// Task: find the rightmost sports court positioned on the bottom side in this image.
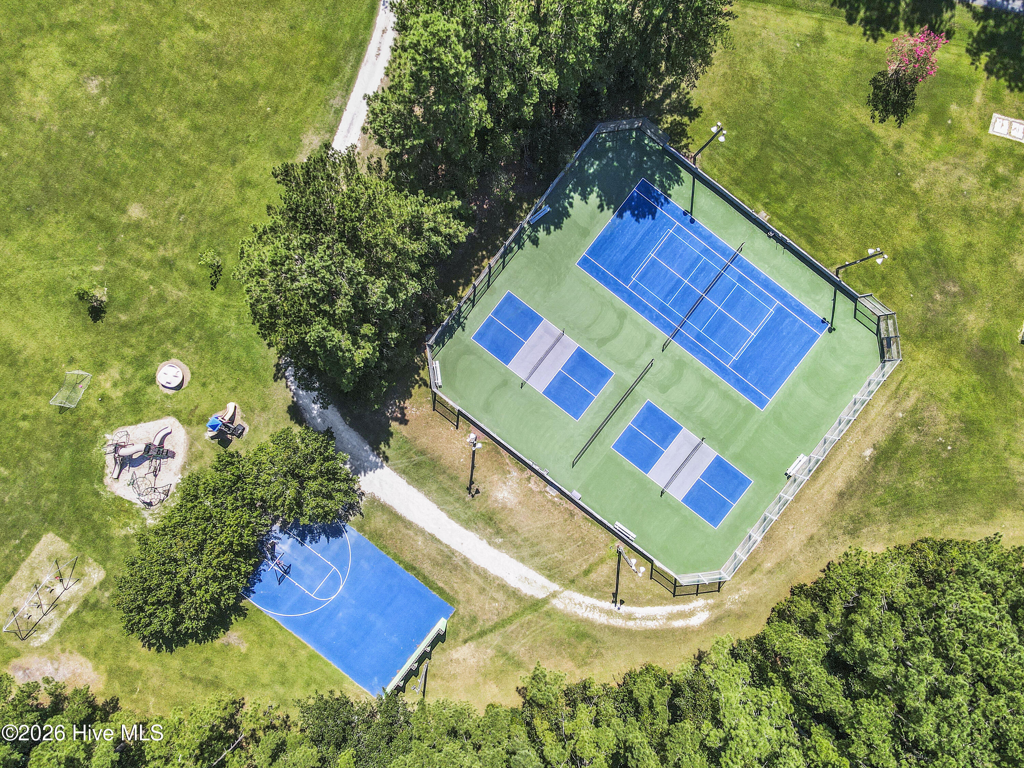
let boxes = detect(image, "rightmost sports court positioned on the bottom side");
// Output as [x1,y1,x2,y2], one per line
[610,399,754,529]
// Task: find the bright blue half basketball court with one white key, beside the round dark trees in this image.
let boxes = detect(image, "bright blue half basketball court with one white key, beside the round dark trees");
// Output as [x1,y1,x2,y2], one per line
[230,509,455,699]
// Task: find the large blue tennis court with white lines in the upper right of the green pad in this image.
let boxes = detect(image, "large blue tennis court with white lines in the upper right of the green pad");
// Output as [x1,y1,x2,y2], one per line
[576,179,830,410]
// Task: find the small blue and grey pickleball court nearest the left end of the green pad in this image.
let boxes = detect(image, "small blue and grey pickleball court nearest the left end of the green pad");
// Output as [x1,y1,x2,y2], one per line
[472,291,614,420]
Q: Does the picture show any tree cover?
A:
Yes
